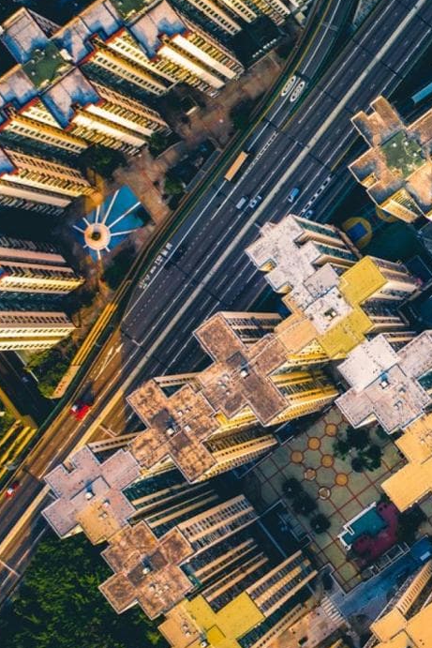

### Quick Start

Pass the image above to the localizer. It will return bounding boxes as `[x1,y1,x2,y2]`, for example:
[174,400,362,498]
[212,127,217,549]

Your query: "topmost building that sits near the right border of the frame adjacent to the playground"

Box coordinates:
[347,97,432,223]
